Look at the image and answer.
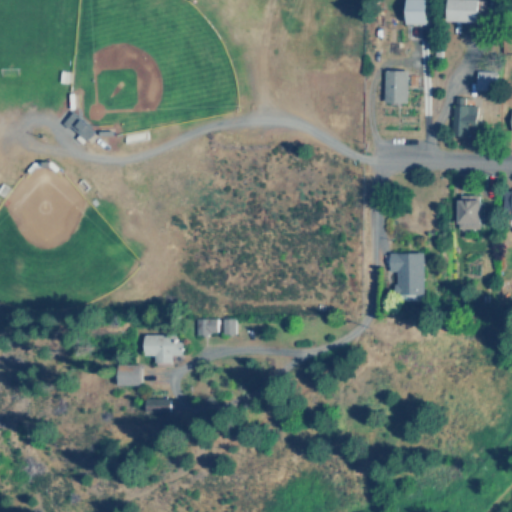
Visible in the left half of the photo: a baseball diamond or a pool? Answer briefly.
baseball diamond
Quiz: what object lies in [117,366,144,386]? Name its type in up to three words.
building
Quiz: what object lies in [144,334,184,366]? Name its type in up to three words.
house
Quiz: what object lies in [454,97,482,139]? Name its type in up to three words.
house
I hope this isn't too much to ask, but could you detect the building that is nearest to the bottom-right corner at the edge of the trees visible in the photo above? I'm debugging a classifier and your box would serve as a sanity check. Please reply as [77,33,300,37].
[390,253,426,300]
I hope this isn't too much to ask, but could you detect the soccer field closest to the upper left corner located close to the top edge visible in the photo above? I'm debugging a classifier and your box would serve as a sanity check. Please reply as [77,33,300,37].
[0,0,80,106]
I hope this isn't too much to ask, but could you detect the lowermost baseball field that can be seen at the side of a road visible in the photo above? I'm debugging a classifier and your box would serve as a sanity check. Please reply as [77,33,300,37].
[0,166,140,306]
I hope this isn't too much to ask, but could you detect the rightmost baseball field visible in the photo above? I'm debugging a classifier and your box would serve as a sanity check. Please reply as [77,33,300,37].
[77,0,239,128]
